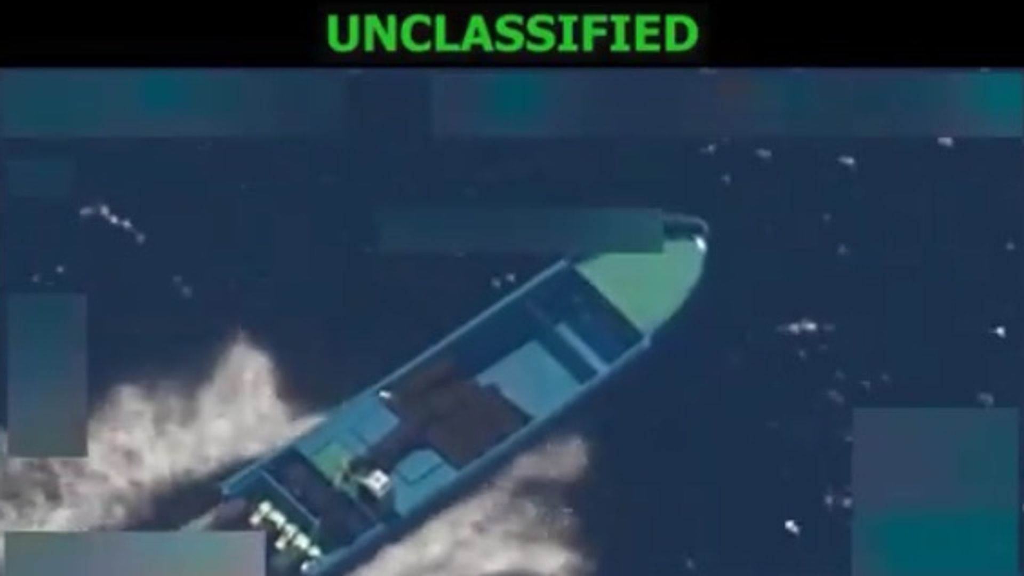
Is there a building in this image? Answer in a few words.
No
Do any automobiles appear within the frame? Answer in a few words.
No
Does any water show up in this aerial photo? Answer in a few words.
Yes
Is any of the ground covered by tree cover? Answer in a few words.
No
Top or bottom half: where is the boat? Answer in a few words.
bottom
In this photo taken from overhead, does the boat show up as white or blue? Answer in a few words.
blue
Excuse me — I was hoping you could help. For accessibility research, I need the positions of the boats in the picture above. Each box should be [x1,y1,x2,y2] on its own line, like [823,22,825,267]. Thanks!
[214,218,713,576]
